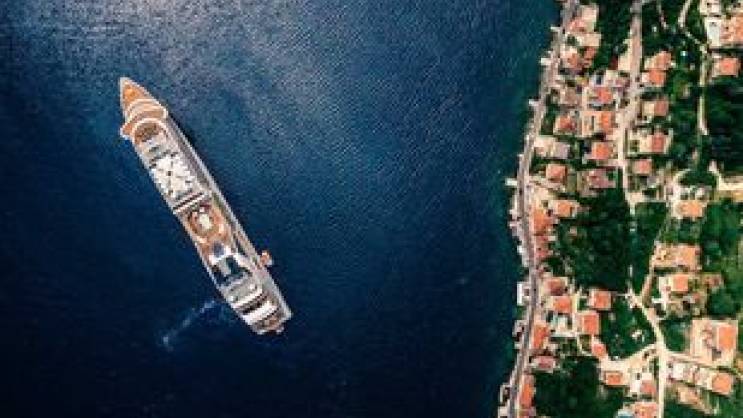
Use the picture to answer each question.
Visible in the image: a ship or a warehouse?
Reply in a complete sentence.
Looking from above, you can make out a ship.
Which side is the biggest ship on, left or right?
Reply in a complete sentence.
The biggest ship appears in the left half of the scene.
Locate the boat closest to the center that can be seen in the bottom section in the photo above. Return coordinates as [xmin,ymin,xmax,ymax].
[260,249,272,265]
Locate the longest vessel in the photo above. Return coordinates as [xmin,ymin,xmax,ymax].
[119,78,295,340]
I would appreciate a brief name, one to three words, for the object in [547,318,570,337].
house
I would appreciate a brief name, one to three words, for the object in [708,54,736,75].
house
